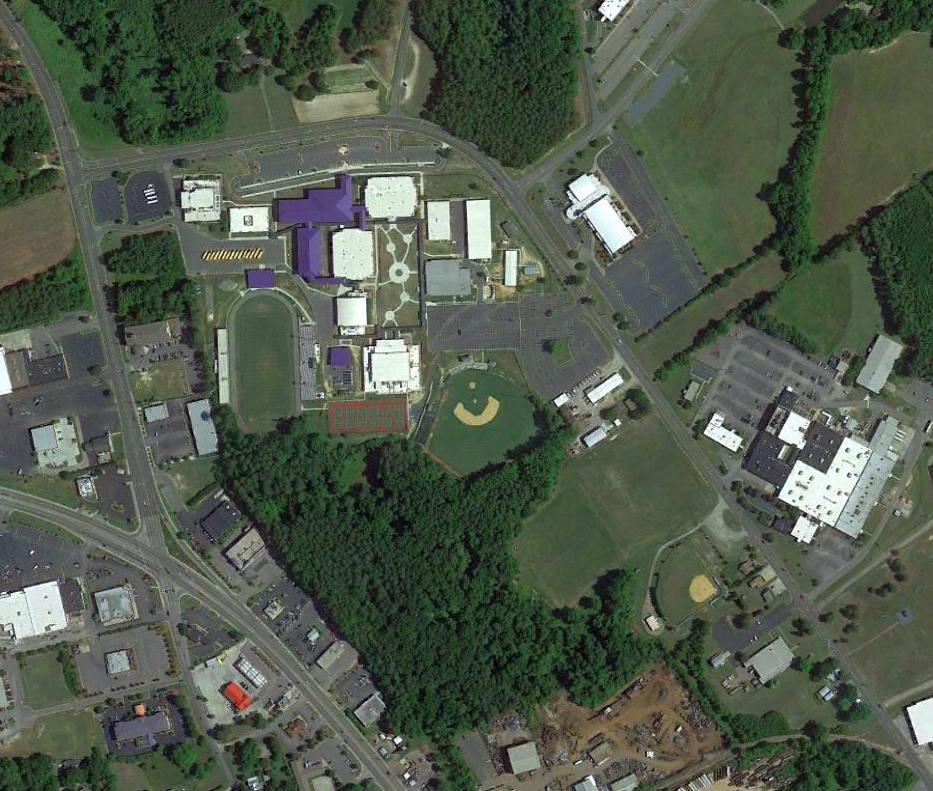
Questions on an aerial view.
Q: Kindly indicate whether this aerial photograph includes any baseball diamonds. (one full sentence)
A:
Yes, there's a baseball diamond down there.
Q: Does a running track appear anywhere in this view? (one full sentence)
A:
Yes, this view includes a running track.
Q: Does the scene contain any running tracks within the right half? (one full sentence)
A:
No, no running track can be made out within the right half.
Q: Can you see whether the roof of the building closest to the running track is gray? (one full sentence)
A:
No, the roof of the building closest to the running track is actually purple.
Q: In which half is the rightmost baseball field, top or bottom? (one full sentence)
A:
Seen from above, the rightmost baseball field lies in the bottom half of the view.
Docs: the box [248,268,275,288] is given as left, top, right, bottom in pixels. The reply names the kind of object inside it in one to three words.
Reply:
building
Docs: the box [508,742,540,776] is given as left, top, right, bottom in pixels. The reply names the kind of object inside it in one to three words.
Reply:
shed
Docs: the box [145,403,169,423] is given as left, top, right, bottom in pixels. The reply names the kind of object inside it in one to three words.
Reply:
building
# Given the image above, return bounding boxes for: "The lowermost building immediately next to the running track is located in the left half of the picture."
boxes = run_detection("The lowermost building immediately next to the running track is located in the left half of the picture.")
[187,398,216,457]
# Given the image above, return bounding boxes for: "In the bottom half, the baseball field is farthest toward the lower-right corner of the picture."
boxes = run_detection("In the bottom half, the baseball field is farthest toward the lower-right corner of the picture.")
[652,539,718,626]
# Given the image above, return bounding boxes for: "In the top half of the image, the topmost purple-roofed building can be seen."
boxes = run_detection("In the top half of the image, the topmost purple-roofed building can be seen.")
[279,174,353,222]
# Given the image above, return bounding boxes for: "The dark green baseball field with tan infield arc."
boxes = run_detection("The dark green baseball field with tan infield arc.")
[422,366,538,478]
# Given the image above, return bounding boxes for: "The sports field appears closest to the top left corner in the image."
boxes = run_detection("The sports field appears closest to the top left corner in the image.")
[233,294,293,426]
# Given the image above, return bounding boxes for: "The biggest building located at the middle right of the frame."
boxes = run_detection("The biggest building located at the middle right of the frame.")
[744,389,901,539]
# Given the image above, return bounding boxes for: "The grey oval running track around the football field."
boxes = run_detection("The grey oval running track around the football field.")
[226,288,300,434]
